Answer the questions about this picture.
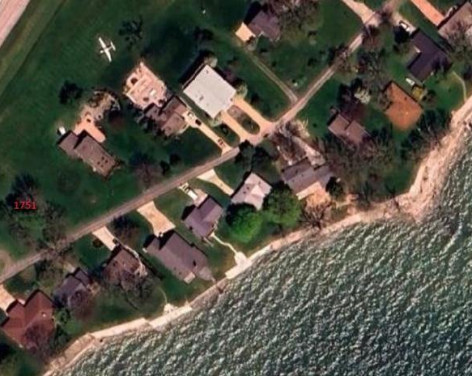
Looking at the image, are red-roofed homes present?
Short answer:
Yes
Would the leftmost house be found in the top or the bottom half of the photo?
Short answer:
bottom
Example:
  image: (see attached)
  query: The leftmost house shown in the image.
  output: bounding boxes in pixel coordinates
[2,294,59,350]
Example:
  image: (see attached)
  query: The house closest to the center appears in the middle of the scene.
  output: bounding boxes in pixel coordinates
[236,174,272,211]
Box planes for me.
[98,38,115,60]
